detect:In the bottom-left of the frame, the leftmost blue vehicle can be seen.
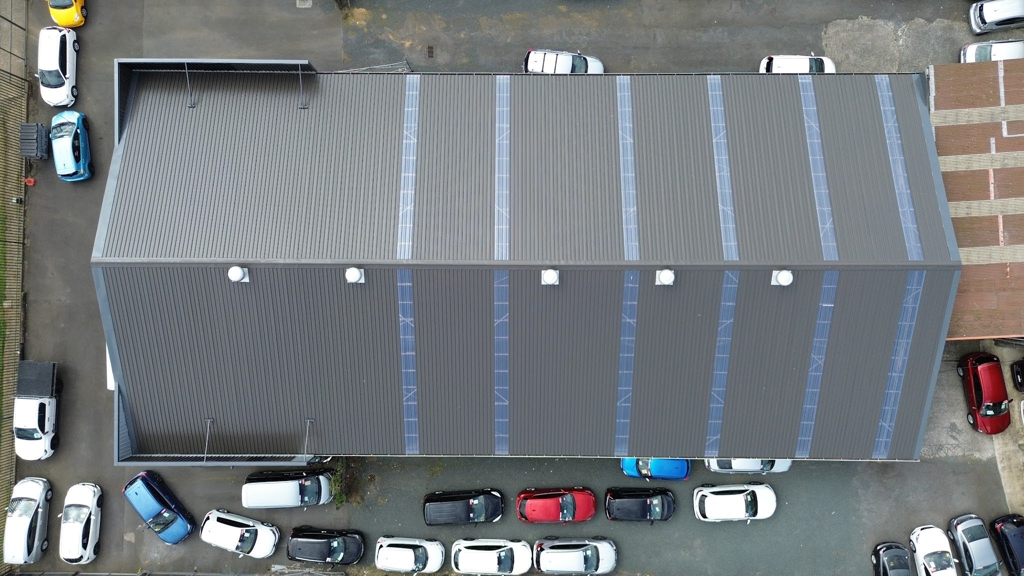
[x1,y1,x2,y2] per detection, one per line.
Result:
[126,468,193,541]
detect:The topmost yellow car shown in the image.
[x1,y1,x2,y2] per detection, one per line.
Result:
[45,0,92,29]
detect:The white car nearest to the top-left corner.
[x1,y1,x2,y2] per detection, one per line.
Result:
[35,30,83,107]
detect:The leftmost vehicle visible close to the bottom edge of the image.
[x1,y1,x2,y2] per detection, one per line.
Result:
[5,477,54,563]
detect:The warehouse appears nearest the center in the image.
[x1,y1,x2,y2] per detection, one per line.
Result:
[90,59,962,466]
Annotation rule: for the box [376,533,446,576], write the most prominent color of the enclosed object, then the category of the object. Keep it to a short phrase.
white car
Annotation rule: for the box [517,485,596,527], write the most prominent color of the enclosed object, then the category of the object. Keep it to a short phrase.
red car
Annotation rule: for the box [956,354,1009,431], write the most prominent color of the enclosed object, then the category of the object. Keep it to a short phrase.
red car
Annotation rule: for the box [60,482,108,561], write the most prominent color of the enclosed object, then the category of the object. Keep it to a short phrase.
white car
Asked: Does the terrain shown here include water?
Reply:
No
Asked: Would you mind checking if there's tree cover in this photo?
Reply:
No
